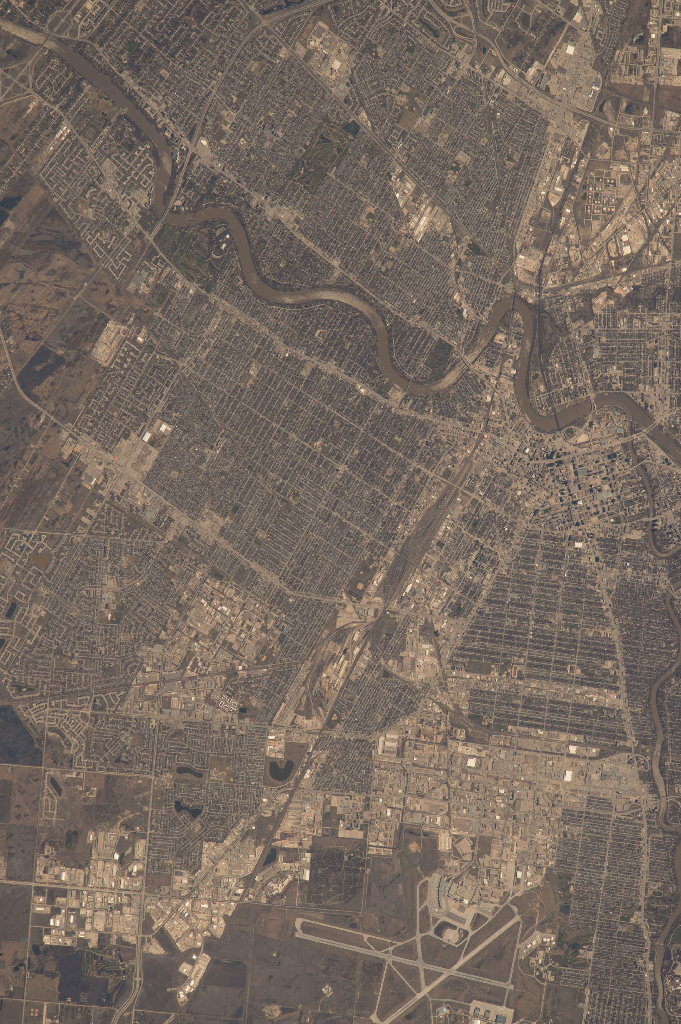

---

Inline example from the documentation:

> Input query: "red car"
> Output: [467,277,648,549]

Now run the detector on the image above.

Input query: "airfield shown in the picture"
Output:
[271,860,558,1024]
